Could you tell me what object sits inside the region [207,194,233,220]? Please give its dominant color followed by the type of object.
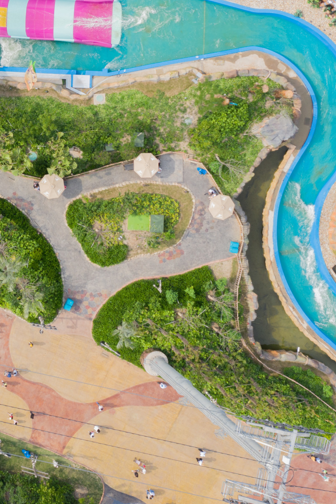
white umbrella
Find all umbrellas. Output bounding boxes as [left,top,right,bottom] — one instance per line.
[207,194,233,220]
[132,152,159,178]
[38,172,64,198]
